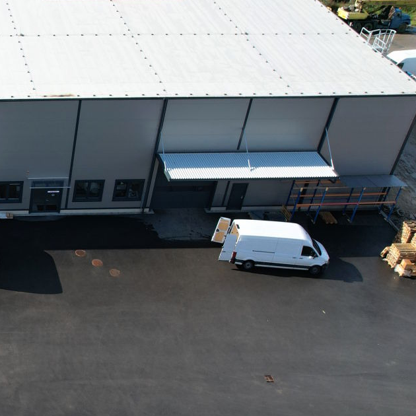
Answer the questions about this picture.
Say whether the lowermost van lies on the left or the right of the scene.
right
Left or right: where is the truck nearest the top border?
right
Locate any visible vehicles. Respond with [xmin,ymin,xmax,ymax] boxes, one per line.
[386,49,416,76]
[216,223,331,275]
[330,0,416,35]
